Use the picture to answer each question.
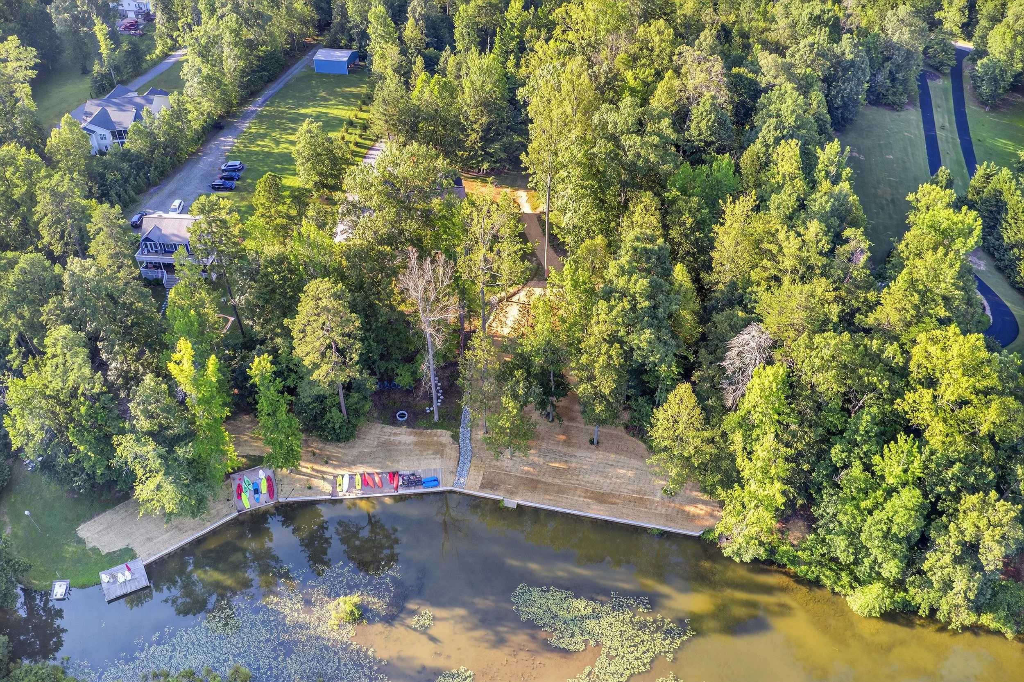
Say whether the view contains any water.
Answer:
Yes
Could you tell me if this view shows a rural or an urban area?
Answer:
rural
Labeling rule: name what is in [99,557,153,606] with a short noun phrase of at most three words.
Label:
pier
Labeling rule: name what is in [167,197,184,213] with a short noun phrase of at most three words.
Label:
car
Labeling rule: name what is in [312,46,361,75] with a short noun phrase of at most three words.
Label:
shed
